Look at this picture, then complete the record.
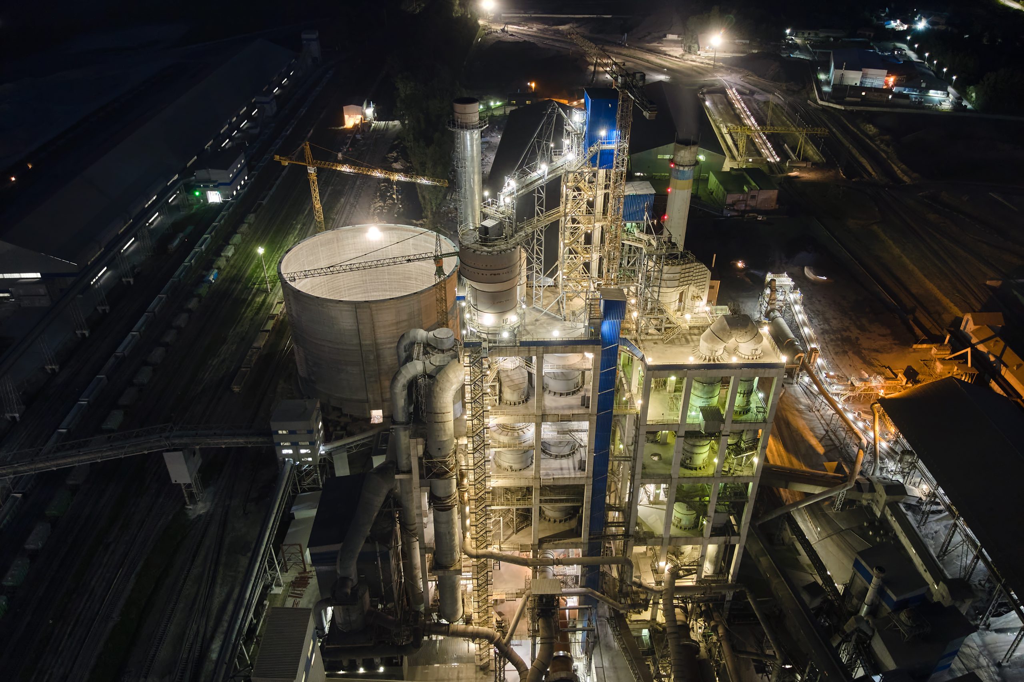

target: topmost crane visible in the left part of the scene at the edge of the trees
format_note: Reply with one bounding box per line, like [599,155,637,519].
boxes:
[273,142,448,233]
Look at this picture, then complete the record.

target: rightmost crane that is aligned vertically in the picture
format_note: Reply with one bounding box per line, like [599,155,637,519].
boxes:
[567,23,657,288]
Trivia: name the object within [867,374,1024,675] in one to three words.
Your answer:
warehouse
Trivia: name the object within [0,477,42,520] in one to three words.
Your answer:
rail car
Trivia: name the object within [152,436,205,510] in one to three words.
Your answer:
house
